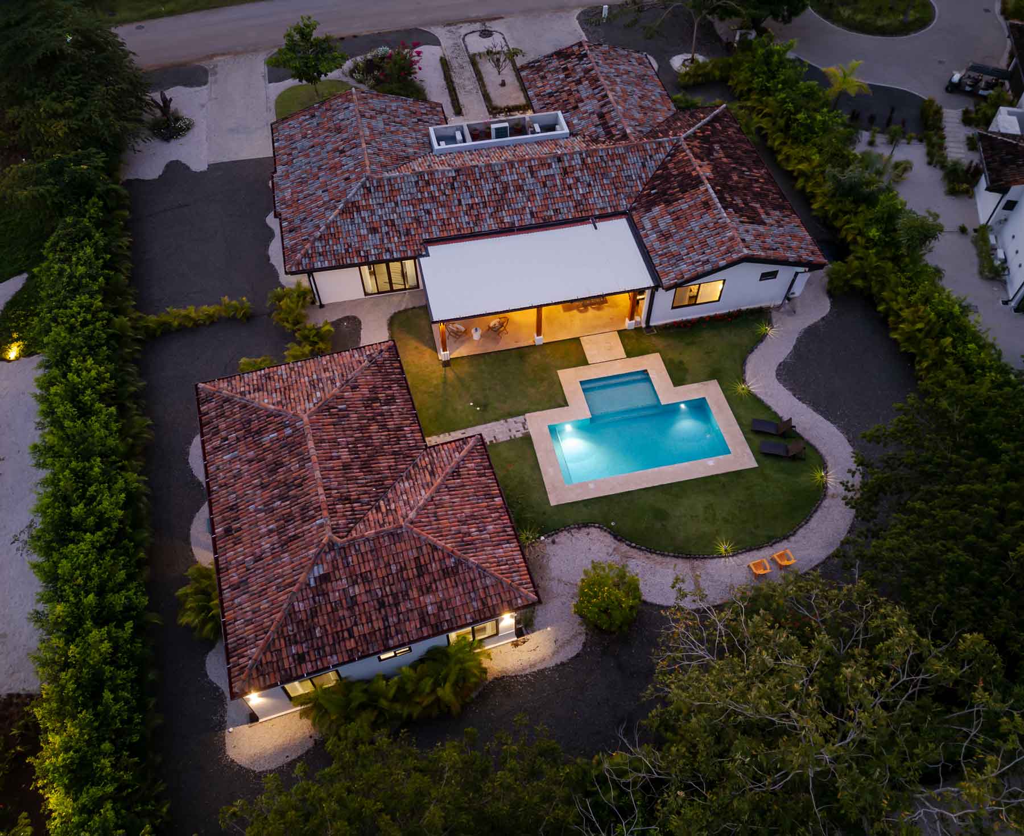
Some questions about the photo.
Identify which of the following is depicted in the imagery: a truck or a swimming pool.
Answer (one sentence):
The image shows a swimming pool.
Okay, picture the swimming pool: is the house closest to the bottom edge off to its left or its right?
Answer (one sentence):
To the left of the swimming pool is where the house closest to the bottom edge appears.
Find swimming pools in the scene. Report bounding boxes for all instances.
[526,352,758,504]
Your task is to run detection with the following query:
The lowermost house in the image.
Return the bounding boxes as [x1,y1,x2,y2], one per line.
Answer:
[192,337,545,725]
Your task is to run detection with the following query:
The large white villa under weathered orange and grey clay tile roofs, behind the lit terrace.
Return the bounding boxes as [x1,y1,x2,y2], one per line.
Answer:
[269,38,829,364]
